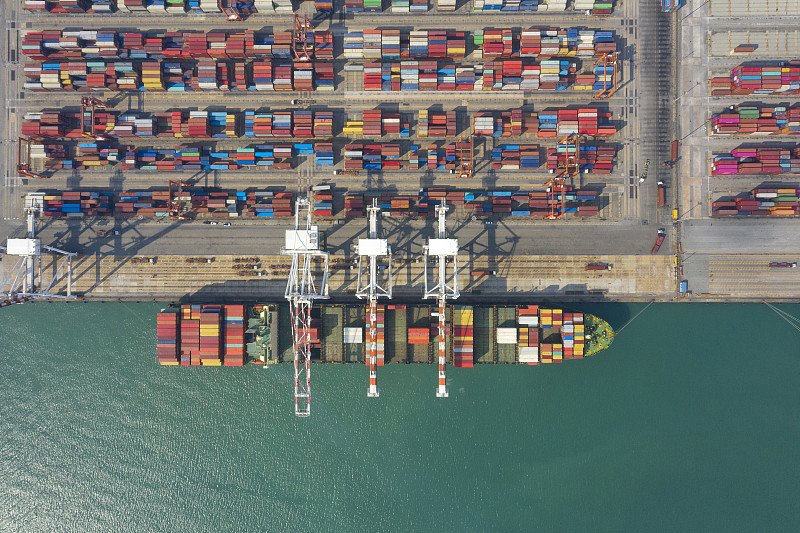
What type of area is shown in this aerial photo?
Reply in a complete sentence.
This looks like a port.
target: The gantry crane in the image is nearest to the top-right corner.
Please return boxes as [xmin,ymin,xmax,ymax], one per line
[591,53,617,101]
